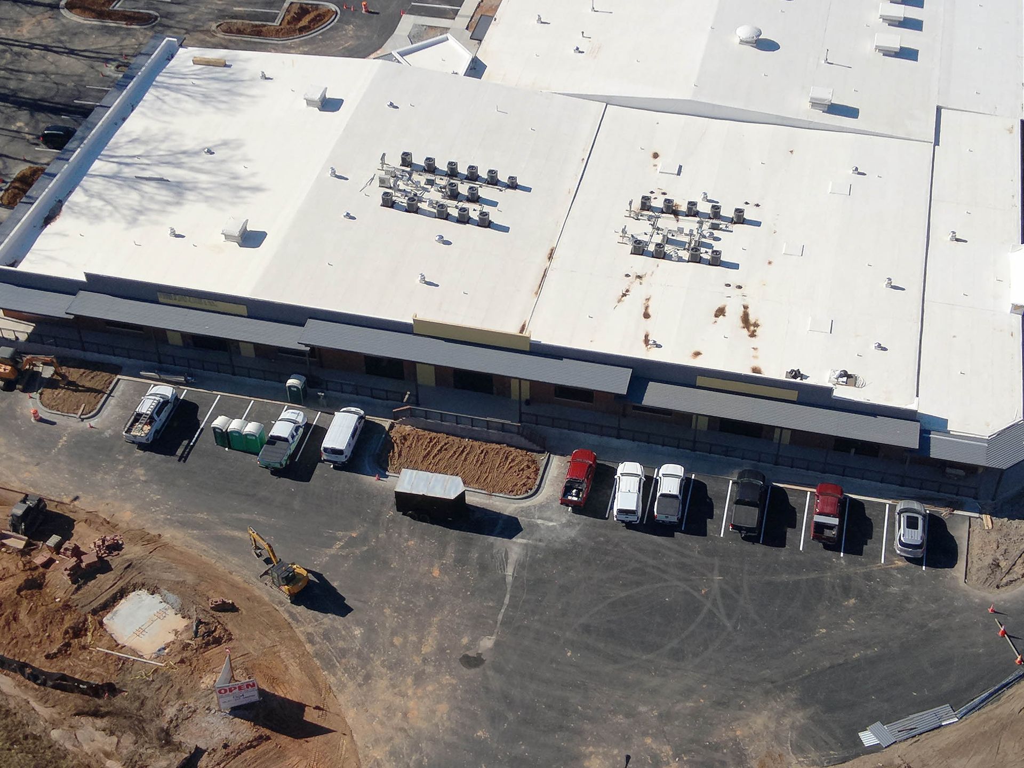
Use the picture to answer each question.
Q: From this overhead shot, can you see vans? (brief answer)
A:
Yes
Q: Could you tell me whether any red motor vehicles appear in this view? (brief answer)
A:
Yes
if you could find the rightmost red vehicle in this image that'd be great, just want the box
[811,482,848,548]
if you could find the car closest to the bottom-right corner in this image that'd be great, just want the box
[892,500,933,560]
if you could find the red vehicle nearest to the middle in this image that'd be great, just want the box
[560,449,599,508]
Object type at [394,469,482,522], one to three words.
trailer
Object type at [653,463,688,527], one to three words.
truck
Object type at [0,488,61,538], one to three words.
work vehicle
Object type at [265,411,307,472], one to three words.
truck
